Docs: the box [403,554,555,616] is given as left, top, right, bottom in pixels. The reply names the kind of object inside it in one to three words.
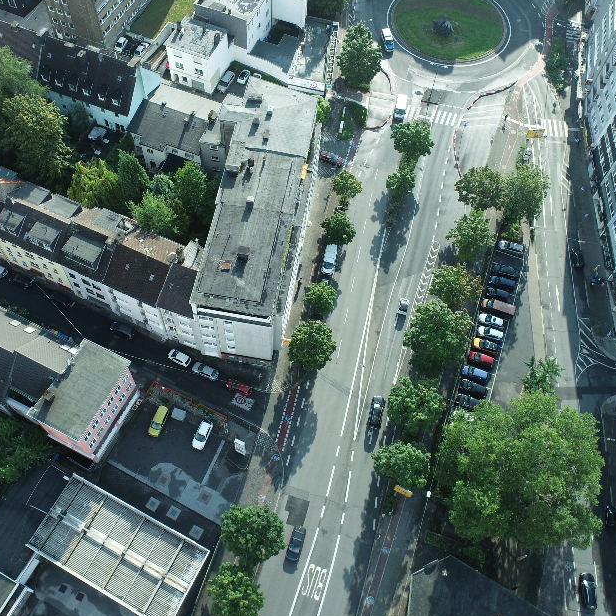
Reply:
building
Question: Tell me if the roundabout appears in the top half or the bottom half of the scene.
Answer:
top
